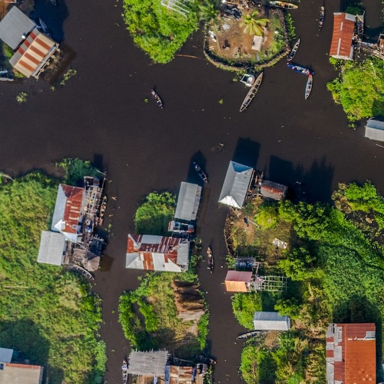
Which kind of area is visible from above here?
residential area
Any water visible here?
Yes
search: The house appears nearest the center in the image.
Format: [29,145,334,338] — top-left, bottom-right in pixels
[174,181,202,221]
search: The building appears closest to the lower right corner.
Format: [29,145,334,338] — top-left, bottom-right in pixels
[327,323,380,384]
